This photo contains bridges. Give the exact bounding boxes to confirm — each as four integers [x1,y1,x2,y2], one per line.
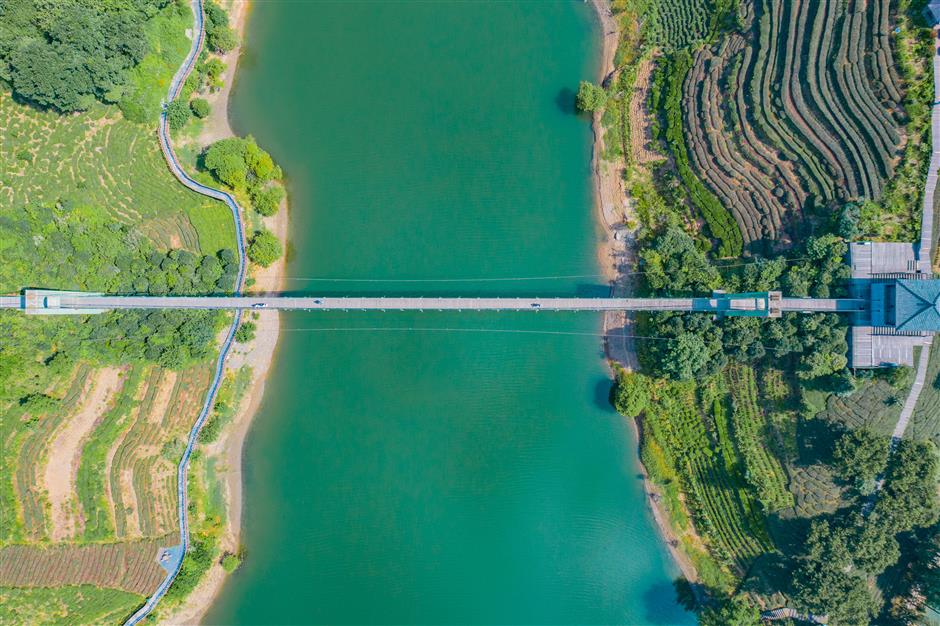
[0,260,871,354]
